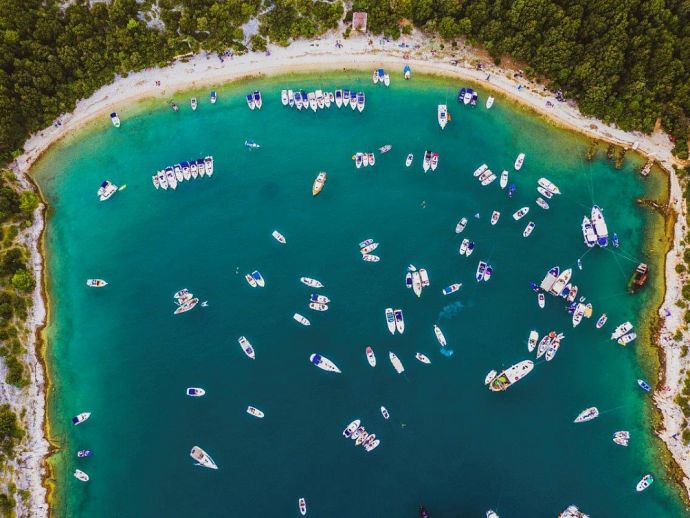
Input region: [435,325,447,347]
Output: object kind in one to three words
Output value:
boat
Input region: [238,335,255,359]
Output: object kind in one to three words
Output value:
boat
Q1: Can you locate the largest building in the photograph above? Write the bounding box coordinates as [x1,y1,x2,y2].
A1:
[352,11,368,40]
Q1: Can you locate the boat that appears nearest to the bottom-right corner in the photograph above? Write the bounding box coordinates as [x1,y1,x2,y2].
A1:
[637,473,656,492]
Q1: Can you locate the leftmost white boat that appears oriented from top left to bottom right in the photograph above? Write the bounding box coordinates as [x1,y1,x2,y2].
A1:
[73,468,90,482]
